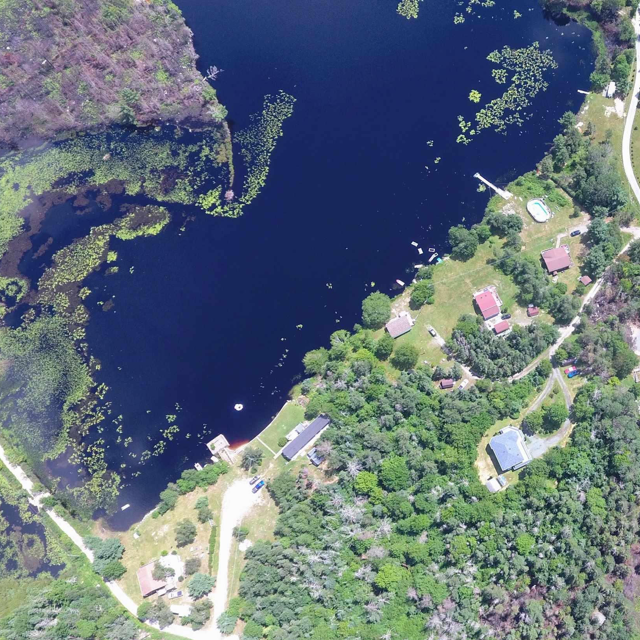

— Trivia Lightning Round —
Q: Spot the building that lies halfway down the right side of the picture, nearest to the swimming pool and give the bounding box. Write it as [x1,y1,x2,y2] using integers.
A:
[540,243,574,275]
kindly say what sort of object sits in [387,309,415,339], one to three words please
house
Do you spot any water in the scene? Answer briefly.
Yes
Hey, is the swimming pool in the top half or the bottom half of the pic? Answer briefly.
top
